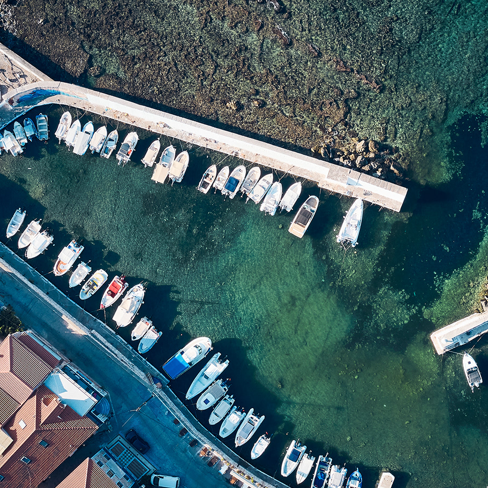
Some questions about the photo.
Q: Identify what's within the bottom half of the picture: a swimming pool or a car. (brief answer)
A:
car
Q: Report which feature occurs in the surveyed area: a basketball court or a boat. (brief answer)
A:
boat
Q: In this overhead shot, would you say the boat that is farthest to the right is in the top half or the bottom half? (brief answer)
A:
bottom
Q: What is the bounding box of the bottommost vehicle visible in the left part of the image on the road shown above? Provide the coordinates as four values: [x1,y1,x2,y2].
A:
[150,473,182,488]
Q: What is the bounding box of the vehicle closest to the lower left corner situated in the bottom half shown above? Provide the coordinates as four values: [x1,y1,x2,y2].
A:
[124,427,153,456]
